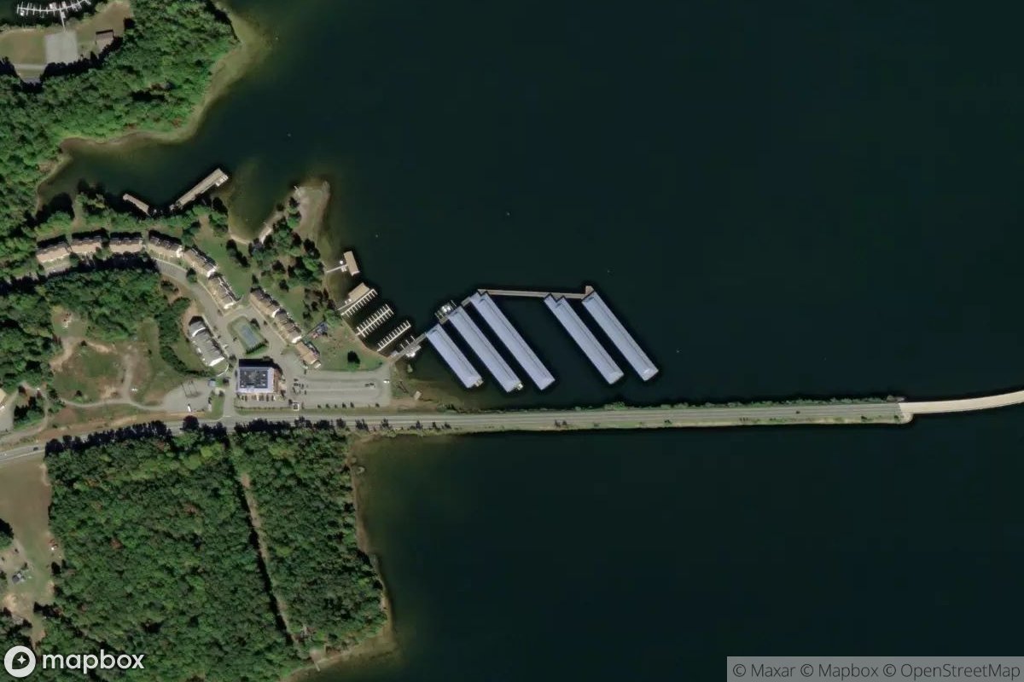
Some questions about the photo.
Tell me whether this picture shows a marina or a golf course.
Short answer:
marina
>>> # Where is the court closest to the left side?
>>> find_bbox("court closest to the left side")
[232,316,264,354]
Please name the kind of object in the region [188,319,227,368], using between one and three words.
building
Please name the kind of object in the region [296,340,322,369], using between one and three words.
building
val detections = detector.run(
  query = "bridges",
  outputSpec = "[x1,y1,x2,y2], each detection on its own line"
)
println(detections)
[899,390,1024,415]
